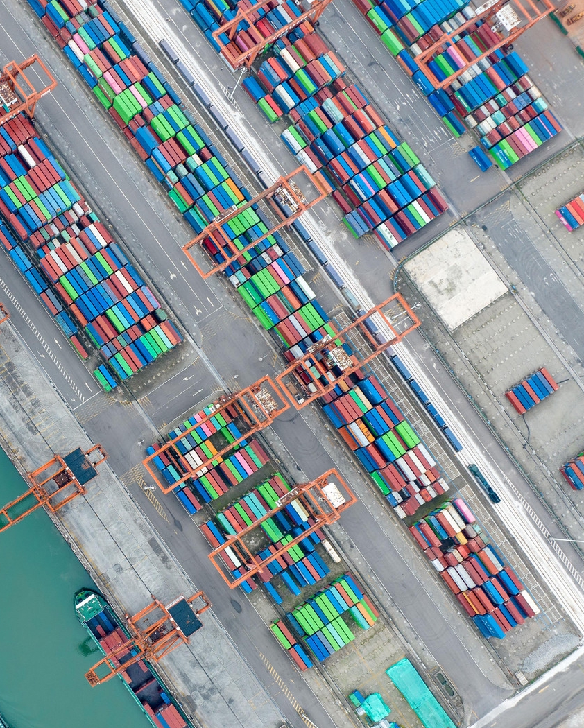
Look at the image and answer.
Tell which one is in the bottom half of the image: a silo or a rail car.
rail car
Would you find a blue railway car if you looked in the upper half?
Yes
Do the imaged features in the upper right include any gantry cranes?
Yes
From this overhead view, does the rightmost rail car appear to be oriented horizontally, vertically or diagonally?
diagonally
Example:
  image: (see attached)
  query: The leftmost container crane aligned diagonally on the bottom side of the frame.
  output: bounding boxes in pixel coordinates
[0,444,107,534]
